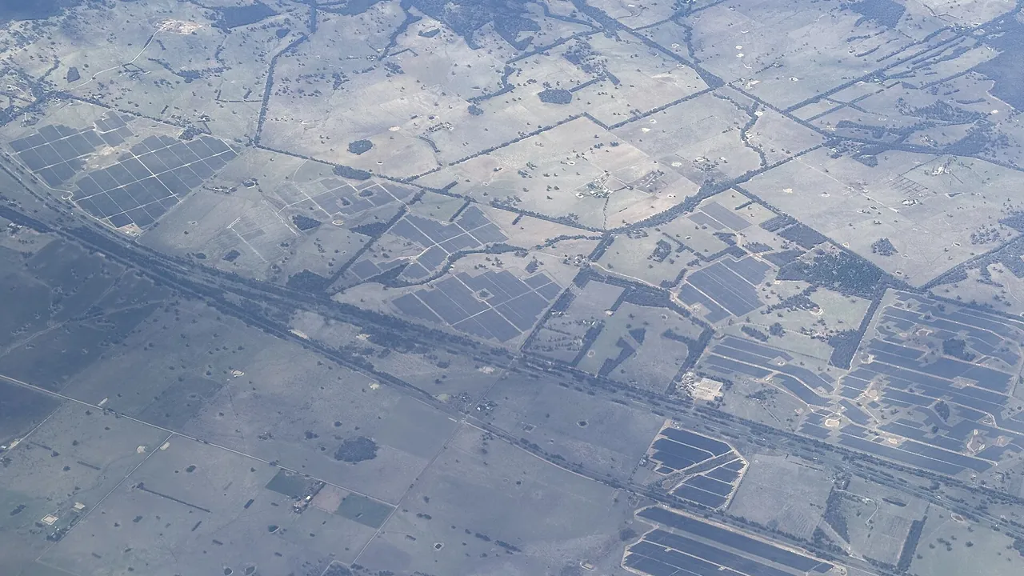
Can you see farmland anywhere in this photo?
Yes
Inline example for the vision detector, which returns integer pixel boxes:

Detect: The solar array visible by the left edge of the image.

[9,110,241,227]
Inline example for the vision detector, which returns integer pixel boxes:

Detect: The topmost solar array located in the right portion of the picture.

[687,201,751,230]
